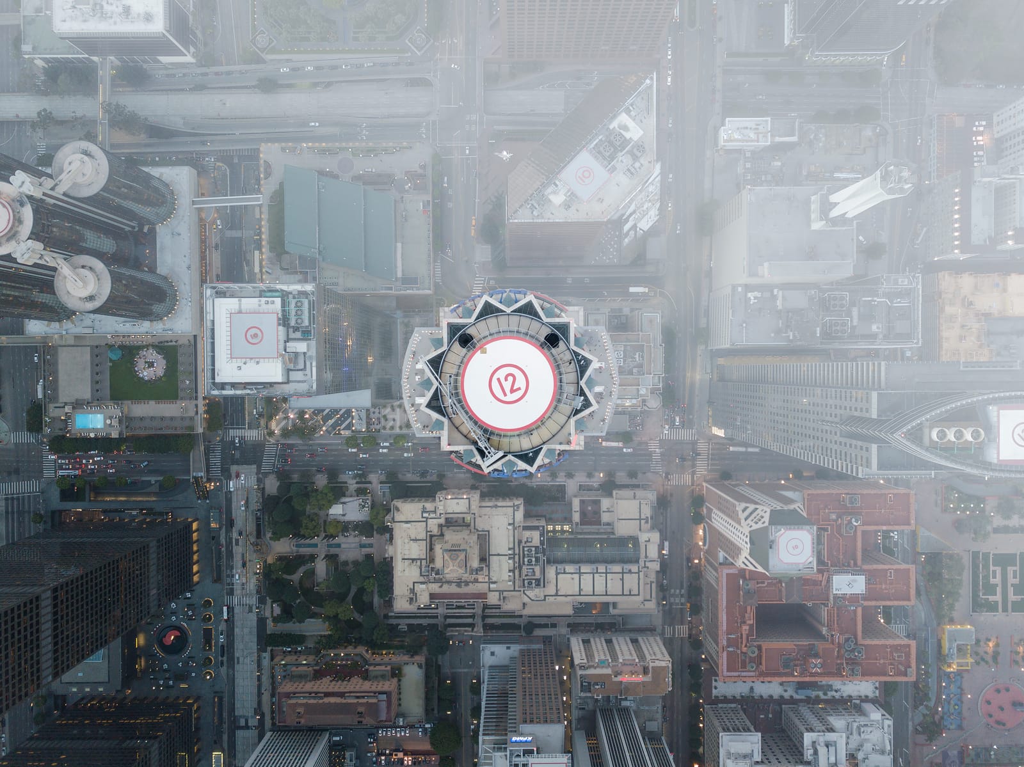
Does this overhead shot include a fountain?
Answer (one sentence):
Yes, a fountain is visible in the scene.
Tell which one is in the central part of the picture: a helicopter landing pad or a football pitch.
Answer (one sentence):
It is a helicopter landing pad that can be seen in the central part of the picture.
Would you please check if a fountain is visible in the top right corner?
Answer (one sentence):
No, looking in the top right corner, there is no fountain.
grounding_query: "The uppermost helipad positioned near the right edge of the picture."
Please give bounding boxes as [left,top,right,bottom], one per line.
[996,405,1024,464]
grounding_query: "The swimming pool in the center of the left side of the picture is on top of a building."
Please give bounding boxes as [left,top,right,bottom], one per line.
[75,414,104,429]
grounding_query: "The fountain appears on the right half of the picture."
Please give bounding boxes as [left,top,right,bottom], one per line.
[977,679,1024,730]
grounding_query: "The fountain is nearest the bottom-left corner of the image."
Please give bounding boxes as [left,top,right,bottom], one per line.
[154,620,191,656]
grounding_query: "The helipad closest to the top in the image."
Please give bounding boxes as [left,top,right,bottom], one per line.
[558,149,611,204]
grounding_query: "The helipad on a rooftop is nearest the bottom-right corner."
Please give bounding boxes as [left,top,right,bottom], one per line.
[833,574,865,596]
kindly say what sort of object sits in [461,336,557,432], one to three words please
helipad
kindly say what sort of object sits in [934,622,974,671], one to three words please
building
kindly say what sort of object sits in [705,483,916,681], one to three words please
building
